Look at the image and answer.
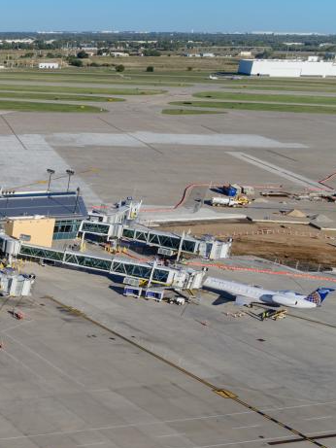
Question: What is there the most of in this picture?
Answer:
paved ground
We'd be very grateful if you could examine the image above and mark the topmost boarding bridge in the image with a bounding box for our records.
[82,196,112,223]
